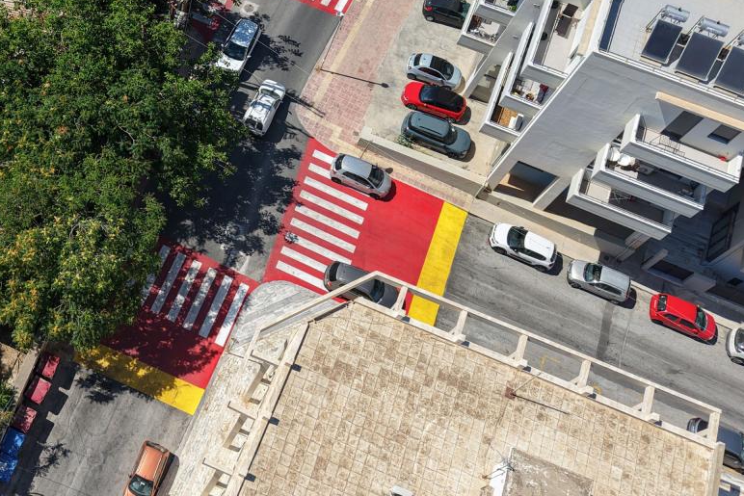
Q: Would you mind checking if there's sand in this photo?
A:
No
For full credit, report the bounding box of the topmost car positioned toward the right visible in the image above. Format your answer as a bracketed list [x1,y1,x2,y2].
[421,0,472,28]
